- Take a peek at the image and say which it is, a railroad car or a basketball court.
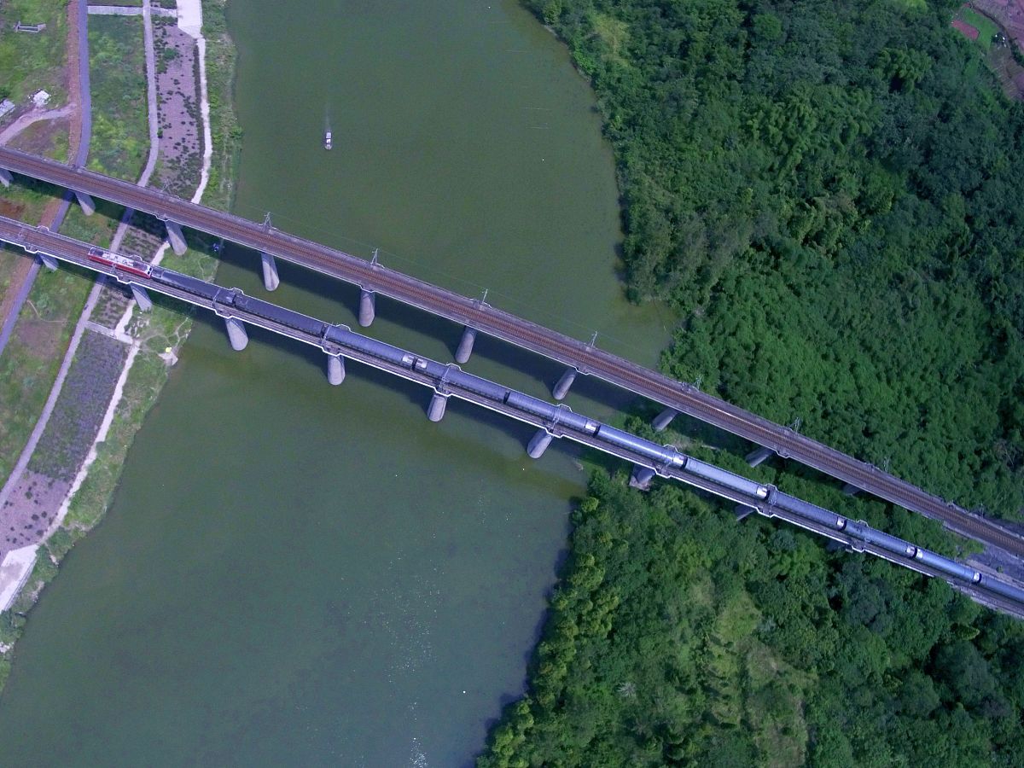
railroad car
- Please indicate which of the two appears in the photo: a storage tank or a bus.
bus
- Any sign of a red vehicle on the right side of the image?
No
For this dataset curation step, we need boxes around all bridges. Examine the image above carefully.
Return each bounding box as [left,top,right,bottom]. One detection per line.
[0,144,948,524]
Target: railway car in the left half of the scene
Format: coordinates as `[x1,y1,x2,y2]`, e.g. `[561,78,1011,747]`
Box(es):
[89,245,156,278]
